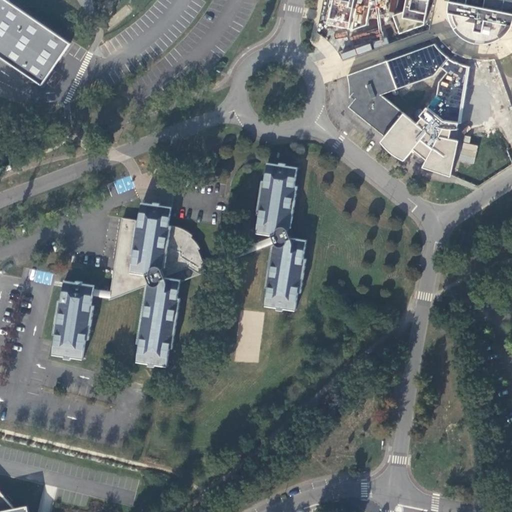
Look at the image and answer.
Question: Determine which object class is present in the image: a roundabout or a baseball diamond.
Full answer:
The one in the frame is a roundabout.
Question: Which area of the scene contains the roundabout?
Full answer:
The roundabout appears toward the top of the photo.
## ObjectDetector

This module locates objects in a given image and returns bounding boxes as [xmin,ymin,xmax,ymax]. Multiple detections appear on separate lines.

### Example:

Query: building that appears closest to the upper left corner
[0,0,70,84]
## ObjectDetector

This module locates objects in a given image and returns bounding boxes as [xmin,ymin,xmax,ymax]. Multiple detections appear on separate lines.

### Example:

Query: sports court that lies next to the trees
[234,310,265,364]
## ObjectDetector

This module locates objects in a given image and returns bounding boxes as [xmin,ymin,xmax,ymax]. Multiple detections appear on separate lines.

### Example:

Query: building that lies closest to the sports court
[264,234,308,312]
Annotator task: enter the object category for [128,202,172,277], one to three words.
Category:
building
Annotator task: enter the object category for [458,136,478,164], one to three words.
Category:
building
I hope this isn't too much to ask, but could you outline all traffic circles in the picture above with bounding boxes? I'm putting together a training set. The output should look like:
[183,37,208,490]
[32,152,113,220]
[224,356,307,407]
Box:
[218,36,337,142]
